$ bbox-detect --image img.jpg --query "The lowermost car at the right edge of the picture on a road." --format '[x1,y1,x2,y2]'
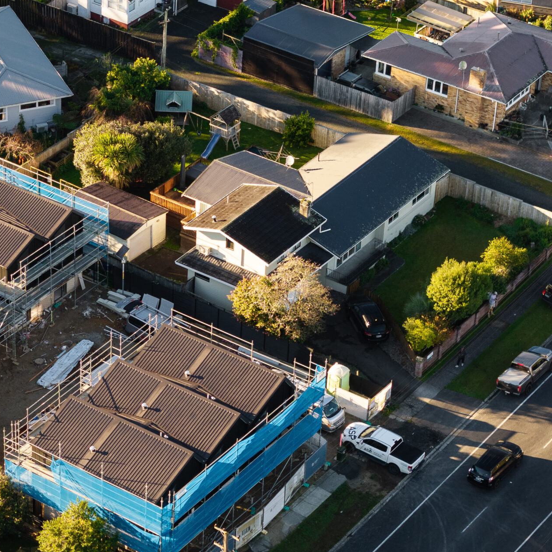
[465,439,526,492]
